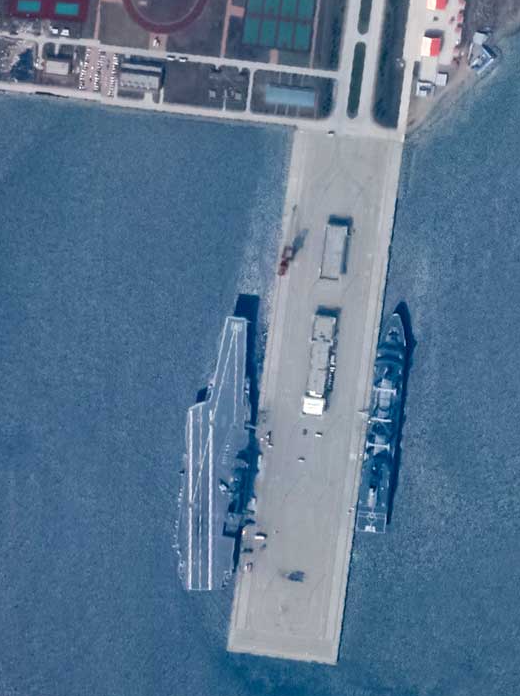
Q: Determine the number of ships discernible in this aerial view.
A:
2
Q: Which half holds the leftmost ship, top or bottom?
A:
bottom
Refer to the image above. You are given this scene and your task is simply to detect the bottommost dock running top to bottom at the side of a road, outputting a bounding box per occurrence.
[227,129,404,665]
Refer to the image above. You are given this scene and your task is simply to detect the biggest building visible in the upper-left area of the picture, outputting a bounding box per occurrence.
[119,62,161,93]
